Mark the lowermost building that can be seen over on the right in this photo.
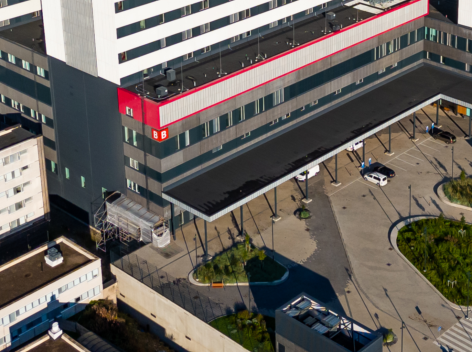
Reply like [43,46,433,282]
[274,283,391,352]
